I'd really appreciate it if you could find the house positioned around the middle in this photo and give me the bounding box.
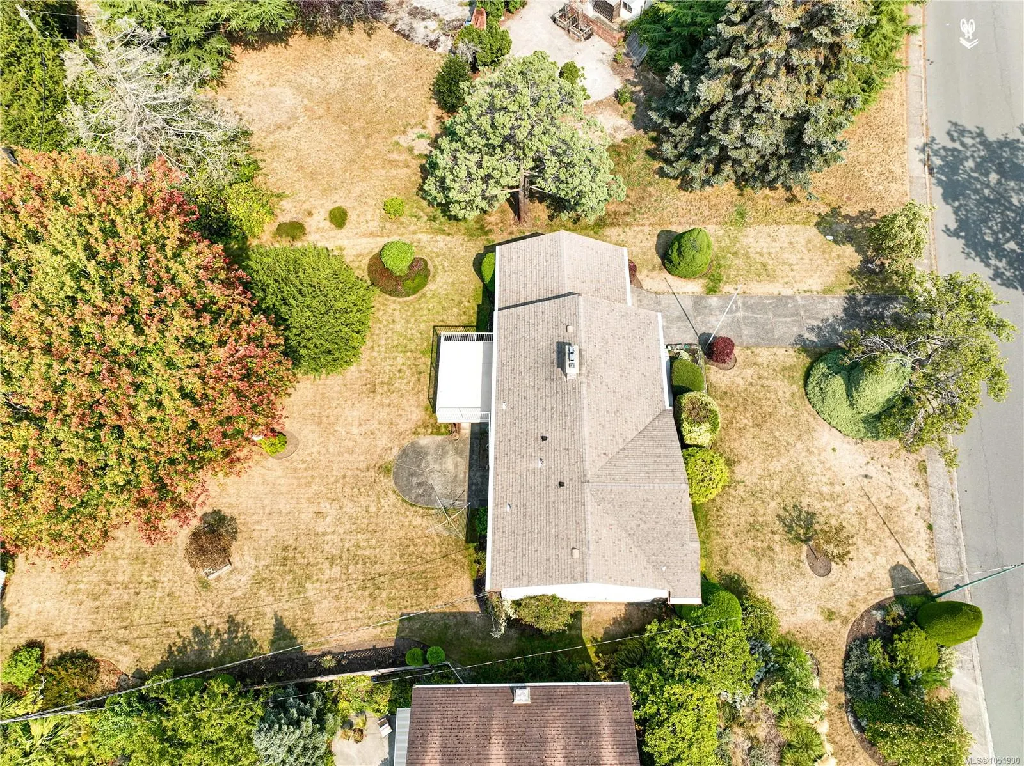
[484,231,702,612]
